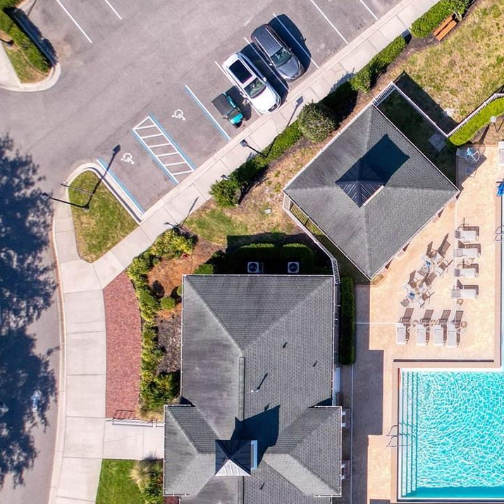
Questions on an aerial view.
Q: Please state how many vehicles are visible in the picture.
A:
three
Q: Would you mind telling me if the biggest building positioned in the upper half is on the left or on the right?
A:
right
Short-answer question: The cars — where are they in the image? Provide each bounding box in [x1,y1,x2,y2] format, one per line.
[246,19,305,81]
[218,47,280,113]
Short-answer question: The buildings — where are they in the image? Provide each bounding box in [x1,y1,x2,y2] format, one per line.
[162,273,358,504]
[283,101,462,278]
